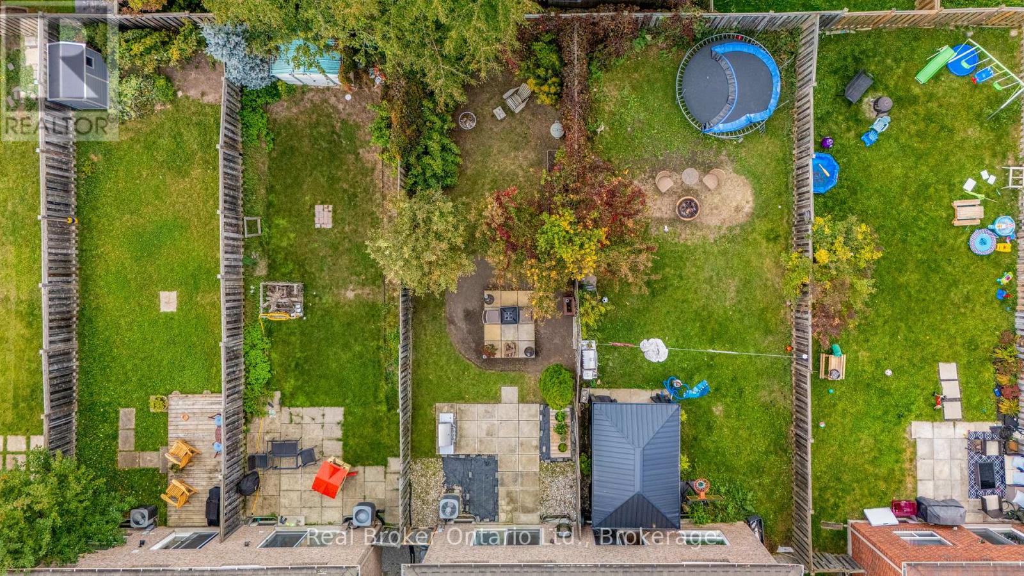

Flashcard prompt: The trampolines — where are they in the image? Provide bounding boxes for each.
[671,31,782,143]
